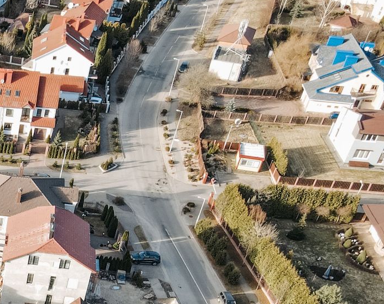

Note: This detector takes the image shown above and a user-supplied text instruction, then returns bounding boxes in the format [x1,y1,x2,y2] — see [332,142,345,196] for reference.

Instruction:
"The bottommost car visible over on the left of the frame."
[131,249,163,265]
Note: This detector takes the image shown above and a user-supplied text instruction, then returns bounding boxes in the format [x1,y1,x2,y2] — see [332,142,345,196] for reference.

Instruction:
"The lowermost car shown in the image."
[216,287,241,304]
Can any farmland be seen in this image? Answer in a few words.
No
